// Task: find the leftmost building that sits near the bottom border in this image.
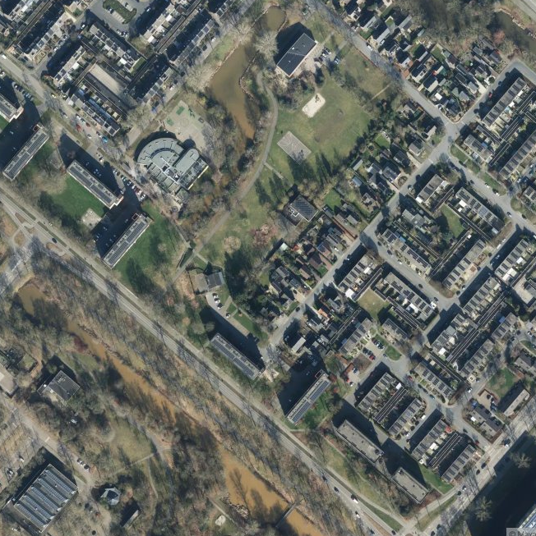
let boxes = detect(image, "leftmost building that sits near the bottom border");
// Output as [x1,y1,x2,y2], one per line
[2,464,77,536]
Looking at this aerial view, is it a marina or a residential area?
residential area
